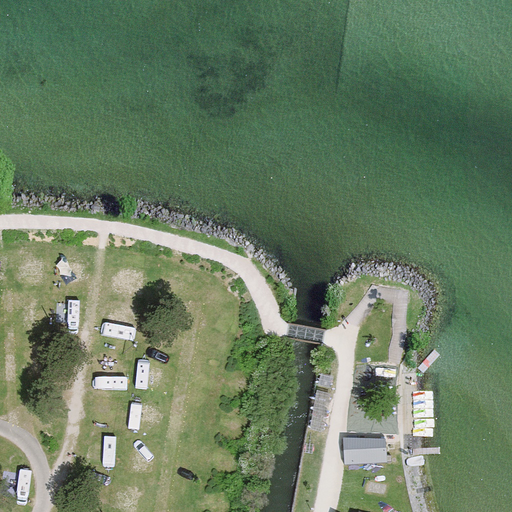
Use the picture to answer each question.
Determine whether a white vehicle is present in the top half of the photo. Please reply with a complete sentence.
No, the scene shows no white vehicle in the top half of the photo.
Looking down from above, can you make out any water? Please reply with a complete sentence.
Yes, water shows up in the scene.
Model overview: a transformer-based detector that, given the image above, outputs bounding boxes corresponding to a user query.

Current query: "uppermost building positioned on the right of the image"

[343,436,388,466]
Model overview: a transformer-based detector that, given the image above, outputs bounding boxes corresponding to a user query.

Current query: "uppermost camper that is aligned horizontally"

[97,322,136,340]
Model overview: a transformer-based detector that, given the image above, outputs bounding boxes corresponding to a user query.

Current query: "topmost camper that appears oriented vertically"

[67,299,81,334]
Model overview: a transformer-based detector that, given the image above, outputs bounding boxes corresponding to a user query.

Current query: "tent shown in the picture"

[56,253,76,285]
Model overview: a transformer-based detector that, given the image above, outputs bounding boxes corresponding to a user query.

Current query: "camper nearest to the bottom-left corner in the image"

[16,468,34,505]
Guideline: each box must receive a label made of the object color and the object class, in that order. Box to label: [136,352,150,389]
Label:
white camper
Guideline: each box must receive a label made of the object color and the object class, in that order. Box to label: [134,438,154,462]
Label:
white car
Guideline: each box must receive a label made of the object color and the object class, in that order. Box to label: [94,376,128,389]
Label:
white vehicle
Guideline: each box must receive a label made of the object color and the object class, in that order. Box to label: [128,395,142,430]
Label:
white vehicle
